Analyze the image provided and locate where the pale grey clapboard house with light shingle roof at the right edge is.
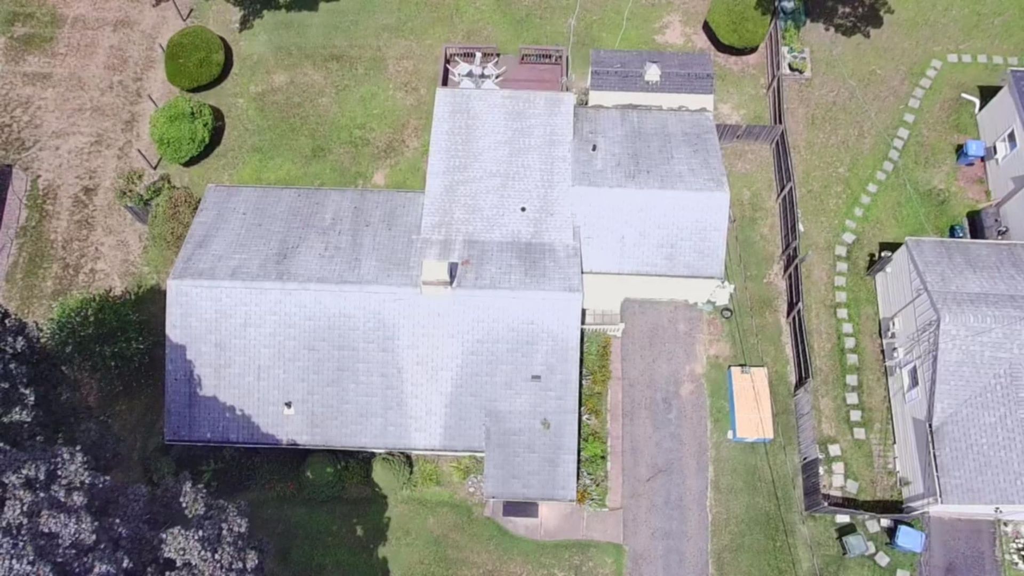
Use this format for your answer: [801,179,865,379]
[880,236,1024,519]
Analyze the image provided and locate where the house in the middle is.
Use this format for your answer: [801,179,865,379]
[163,87,729,505]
